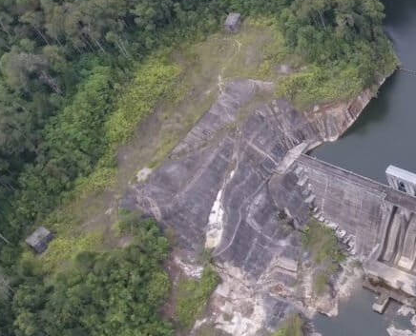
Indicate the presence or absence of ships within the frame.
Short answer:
No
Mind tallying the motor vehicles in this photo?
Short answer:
0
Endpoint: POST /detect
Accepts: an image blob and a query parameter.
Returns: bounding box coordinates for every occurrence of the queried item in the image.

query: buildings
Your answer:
[219,15,242,36]
[20,230,51,259]
[384,162,416,194]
